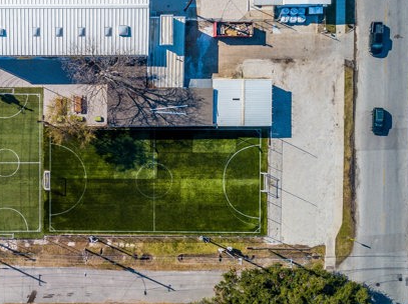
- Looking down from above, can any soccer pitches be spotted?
Yes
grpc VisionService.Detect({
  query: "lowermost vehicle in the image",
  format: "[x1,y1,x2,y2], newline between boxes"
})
[369,108,385,134]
